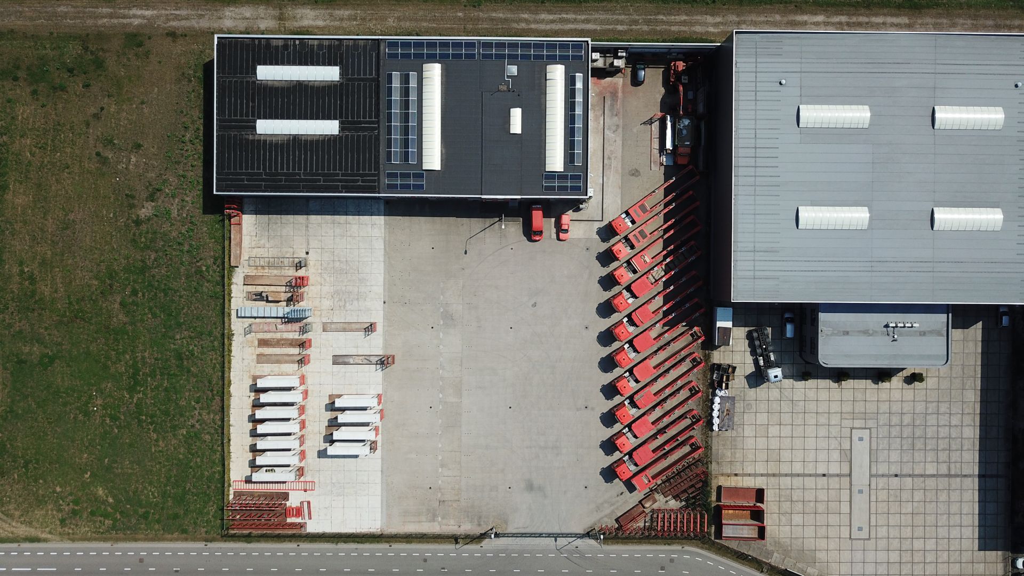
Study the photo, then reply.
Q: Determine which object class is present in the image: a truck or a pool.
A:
truck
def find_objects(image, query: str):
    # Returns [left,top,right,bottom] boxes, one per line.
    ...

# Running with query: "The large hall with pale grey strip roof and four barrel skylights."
[709,30,1024,305]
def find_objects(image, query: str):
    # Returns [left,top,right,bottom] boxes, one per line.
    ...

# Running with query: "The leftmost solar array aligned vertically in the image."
[386,72,416,163]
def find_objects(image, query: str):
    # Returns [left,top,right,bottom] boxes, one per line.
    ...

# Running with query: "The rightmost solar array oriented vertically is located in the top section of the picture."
[569,73,583,164]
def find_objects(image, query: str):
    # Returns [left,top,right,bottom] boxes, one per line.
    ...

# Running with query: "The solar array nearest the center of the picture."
[543,172,582,191]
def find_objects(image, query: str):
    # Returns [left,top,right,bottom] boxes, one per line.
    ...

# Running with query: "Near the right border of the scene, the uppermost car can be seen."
[993,305,1009,328]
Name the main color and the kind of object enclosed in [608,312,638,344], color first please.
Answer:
red truck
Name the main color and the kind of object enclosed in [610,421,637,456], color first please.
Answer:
red truck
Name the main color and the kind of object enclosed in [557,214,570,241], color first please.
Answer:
red vehicle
